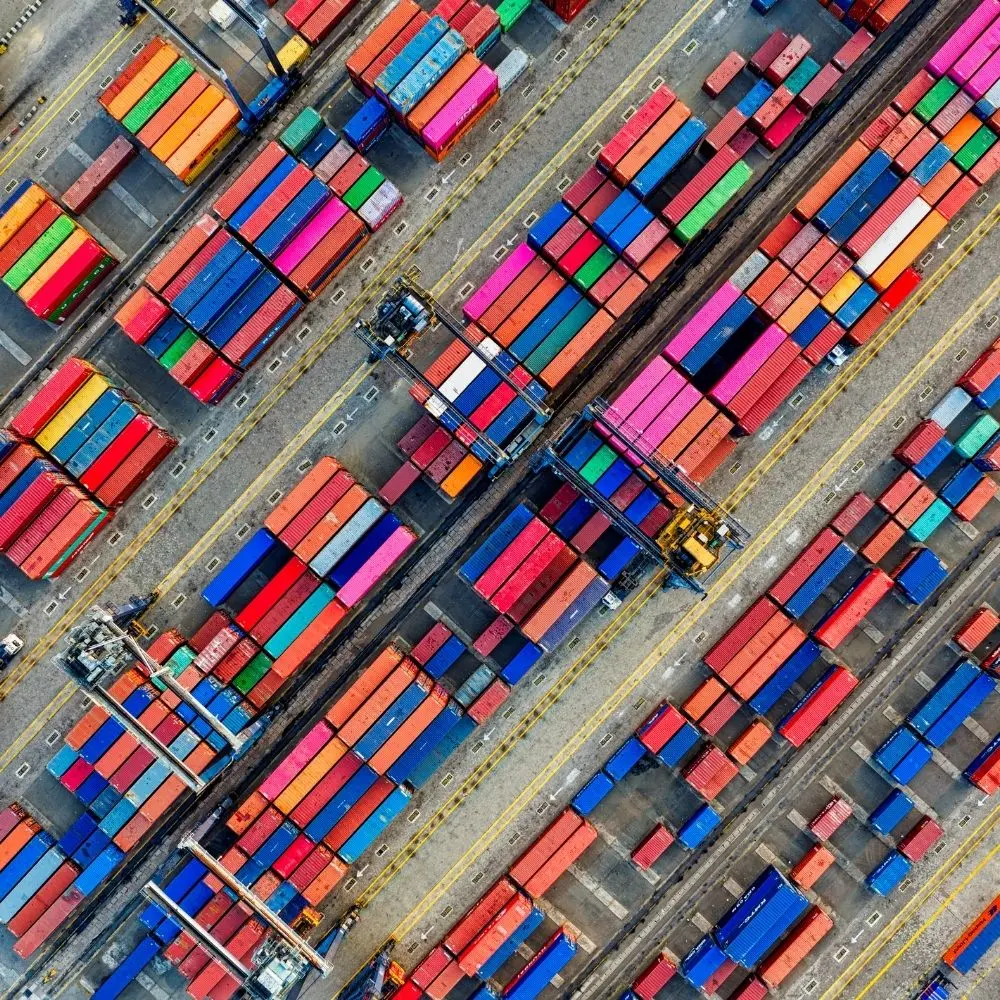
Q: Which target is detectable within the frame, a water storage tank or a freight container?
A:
freight container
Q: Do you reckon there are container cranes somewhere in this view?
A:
Yes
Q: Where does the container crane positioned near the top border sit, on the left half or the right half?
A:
left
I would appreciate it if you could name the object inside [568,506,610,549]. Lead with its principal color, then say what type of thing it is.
red shipping container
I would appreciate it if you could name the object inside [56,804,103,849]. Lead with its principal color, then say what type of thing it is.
blue shipping container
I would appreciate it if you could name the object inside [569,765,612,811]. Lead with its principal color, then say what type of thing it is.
blue shipping container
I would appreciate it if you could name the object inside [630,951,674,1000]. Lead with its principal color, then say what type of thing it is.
red shipping container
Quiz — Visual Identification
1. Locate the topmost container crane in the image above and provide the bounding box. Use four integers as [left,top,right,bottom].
[125,0,299,132]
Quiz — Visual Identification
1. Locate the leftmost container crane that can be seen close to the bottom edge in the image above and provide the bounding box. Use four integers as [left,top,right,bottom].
[133,793,357,1000]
